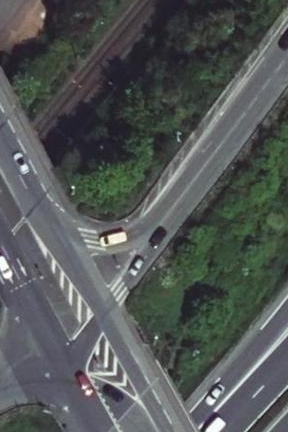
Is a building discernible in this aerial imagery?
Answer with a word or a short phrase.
No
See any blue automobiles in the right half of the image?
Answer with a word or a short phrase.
No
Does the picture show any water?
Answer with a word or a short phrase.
No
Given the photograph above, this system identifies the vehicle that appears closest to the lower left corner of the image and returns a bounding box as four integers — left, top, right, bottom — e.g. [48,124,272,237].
[78,373,94,396]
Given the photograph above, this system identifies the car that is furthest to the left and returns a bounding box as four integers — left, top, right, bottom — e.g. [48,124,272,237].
[0,254,12,278]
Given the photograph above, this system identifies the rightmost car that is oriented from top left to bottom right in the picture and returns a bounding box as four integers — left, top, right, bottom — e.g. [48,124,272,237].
[102,384,124,402]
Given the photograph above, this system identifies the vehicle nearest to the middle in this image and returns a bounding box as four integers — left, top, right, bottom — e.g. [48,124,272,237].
[148,226,166,248]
